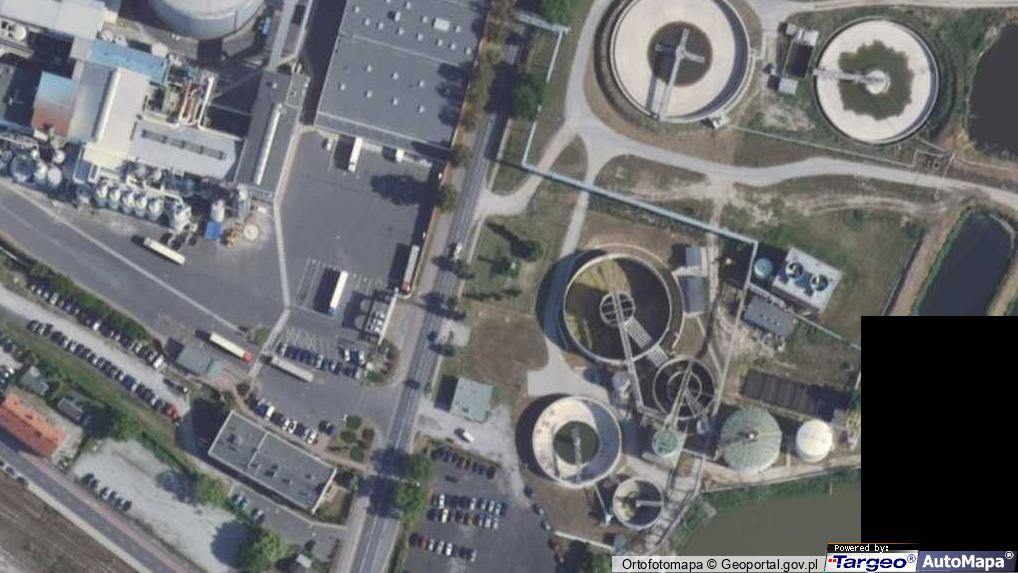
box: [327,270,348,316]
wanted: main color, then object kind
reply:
white vehicle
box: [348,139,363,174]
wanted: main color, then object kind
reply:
white vehicle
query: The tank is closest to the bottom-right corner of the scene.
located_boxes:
[794,418,833,458]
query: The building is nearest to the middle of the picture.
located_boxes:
[450,378,492,424]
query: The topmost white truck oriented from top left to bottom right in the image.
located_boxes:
[143,237,186,266]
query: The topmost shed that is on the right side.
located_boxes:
[783,24,818,48]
